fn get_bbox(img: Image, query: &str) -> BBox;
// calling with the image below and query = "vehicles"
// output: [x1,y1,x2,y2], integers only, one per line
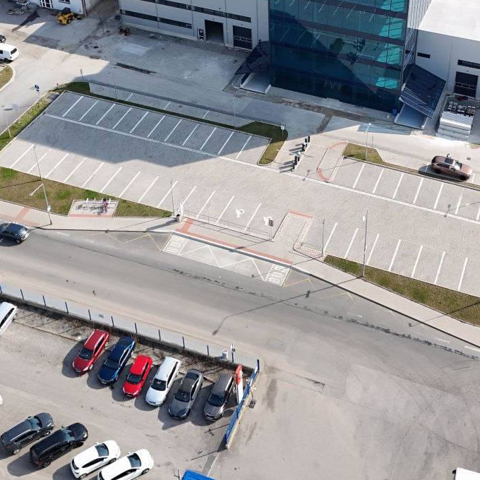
[28,422,88,468]
[0,303,18,340]
[71,327,111,376]
[0,42,20,62]
[0,410,57,456]
[121,353,157,398]
[0,222,32,243]
[430,154,471,182]
[98,334,139,385]
[146,355,183,407]
[0,34,9,43]
[55,6,81,22]
[168,367,206,420]
[67,439,122,480]
[202,371,236,423]
[98,449,153,480]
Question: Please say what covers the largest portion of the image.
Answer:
paved ground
